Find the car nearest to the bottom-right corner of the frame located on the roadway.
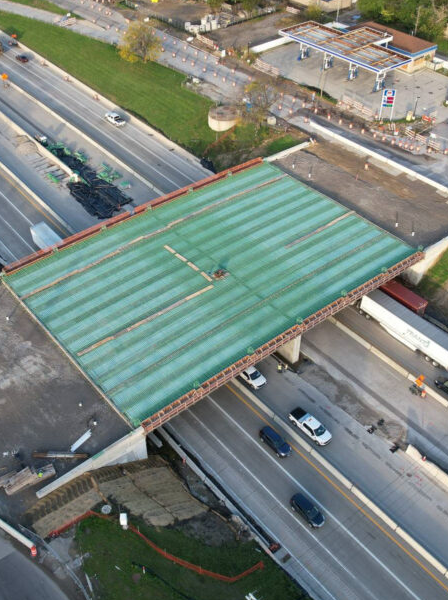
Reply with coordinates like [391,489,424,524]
[283,489,330,536]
